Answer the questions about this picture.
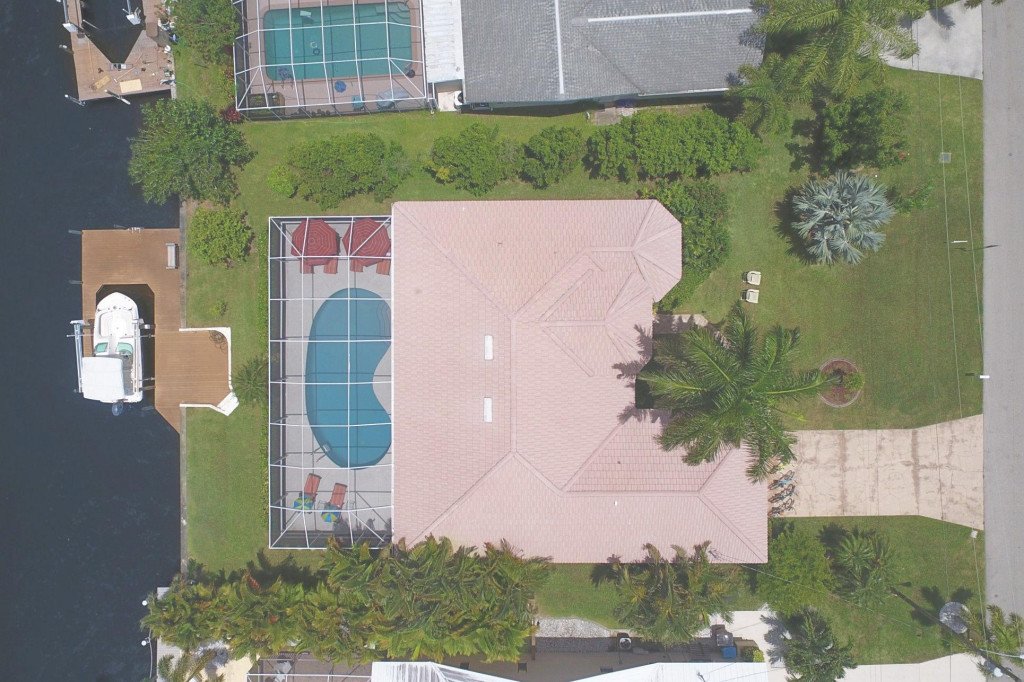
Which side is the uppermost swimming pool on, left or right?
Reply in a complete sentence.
The uppermost swimming pool is on the left side of the image.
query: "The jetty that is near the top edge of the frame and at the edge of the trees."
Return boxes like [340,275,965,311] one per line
[70,0,173,103]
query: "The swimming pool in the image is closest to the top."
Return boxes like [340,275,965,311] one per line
[259,0,415,84]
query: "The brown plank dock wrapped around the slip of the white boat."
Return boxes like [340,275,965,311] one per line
[81,229,230,433]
